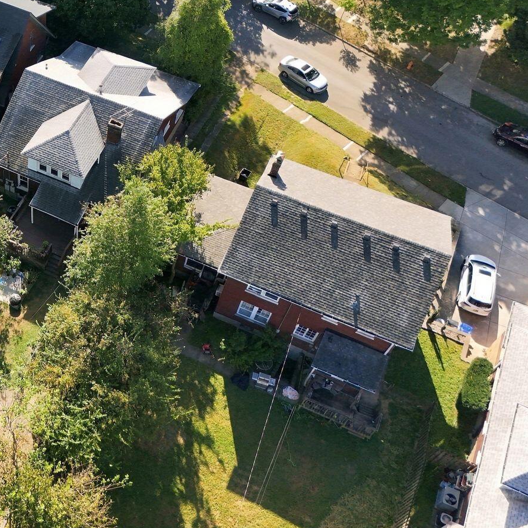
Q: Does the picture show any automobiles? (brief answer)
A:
Yes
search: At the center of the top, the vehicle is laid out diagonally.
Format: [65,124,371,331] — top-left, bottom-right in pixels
[279,52,334,93]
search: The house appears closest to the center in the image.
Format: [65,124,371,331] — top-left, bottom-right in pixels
[177,149,452,409]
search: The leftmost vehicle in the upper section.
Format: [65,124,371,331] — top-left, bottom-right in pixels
[253,0,305,22]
